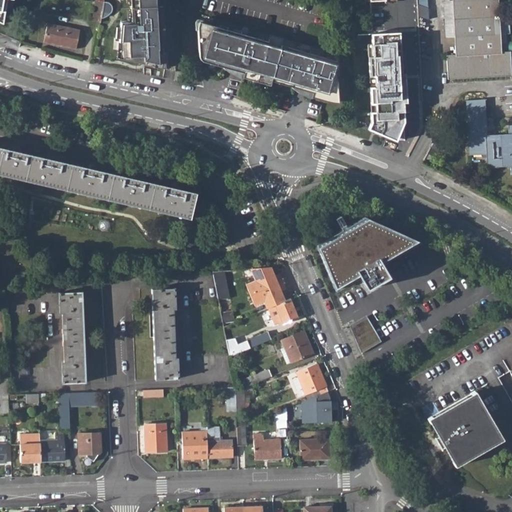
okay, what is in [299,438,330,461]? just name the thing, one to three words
house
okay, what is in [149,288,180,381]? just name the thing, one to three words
building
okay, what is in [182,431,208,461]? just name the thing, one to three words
house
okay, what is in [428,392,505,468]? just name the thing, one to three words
building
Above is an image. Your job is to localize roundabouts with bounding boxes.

[249,113,317,179]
